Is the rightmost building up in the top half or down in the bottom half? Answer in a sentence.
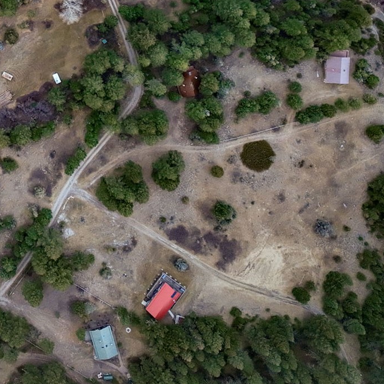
It is in the top half that the rightmost building appears.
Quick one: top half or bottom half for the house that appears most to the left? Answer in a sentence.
It is in the bottom half that the house that appears most to the left appears.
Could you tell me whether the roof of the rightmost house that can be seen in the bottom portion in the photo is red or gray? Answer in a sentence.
In this view, the roof of the rightmost house that can be seen in the bottom portion is red.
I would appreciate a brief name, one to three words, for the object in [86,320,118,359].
house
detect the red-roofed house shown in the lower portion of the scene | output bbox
[142,270,186,317]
